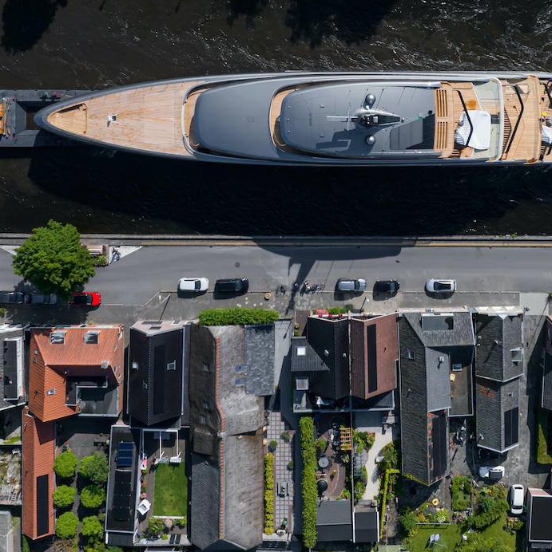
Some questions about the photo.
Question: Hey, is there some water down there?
Yes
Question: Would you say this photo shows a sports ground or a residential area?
residential area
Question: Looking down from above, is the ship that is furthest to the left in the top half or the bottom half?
top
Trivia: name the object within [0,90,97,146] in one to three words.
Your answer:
ship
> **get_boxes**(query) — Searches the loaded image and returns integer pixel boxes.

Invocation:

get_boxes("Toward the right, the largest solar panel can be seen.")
[433,416,447,478]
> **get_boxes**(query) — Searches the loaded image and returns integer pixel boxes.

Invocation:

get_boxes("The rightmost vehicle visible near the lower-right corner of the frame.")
[510,483,524,513]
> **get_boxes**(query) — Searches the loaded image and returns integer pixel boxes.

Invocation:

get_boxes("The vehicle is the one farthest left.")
[0,290,25,305]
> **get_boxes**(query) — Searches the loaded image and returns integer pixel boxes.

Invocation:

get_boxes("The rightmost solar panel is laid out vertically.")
[505,407,518,448]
